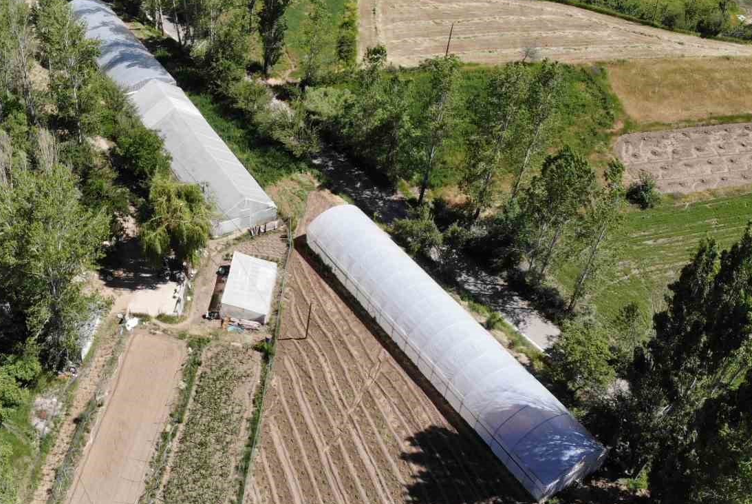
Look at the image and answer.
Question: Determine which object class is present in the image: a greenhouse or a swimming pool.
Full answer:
I can see a greenhouse in this picture.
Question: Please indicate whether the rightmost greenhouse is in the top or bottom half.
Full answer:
It is in the bottom half that the rightmost greenhouse appears.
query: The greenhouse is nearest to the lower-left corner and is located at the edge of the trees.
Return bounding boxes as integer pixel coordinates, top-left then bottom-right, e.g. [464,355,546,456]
[218,253,280,324]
